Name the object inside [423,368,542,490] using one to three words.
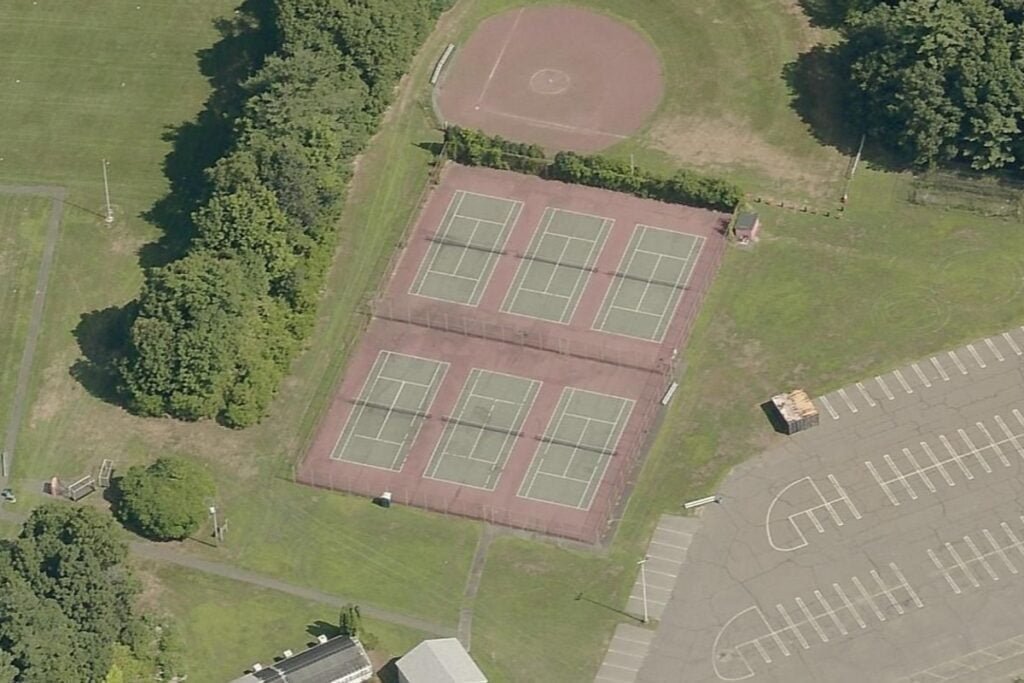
tennis court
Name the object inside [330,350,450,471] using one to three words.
tennis court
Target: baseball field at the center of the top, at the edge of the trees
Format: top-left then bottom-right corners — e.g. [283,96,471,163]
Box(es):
[431,4,665,157]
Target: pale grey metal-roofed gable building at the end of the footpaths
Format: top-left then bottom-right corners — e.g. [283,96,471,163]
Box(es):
[395,637,489,683]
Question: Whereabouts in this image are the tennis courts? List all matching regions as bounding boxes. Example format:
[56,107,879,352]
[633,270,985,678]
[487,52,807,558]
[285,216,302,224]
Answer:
[500,207,615,323]
[423,368,542,490]
[330,350,450,471]
[592,224,706,341]
[408,190,523,306]
[517,387,635,509]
